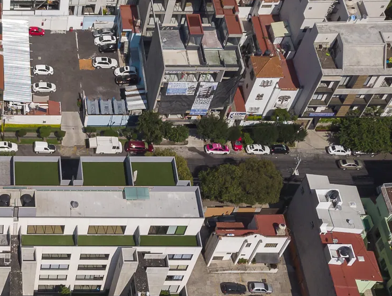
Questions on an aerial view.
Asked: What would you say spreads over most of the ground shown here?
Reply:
buildings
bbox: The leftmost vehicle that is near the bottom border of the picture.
[218,282,248,296]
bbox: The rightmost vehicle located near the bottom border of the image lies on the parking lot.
[247,281,273,295]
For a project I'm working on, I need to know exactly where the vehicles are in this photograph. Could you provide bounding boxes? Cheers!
[93,35,117,46]
[127,140,151,154]
[32,63,55,75]
[29,26,47,37]
[337,158,364,169]
[232,139,245,154]
[204,143,230,155]
[92,27,115,37]
[353,145,376,157]
[0,141,18,153]
[269,143,291,155]
[32,82,56,92]
[93,56,116,69]
[115,74,139,85]
[325,144,352,156]
[218,282,248,296]
[96,44,119,54]
[88,135,124,154]
[33,140,56,153]
[245,143,270,155]
[247,281,273,295]
[114,65,137,77]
